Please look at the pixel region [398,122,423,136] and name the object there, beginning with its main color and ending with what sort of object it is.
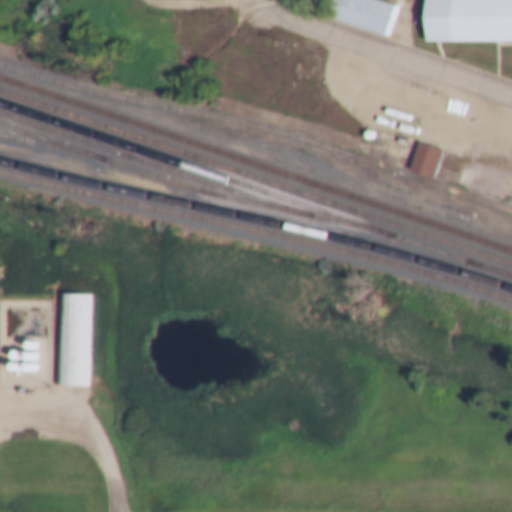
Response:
white vehicle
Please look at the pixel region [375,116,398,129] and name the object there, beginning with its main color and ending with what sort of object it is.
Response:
white vehicle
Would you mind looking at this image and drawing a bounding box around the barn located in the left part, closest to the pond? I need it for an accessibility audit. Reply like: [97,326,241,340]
[62,294,94,386]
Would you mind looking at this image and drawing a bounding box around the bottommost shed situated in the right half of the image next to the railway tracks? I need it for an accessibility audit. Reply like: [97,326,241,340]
[410,142,444,178]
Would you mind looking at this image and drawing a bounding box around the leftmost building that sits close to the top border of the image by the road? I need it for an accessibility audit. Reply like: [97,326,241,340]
[326,0,402,37]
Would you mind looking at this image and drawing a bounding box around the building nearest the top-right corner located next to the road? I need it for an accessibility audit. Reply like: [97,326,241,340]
[424,0,512,43]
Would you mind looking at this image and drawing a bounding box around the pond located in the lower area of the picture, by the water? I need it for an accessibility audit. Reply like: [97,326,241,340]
[150,316,262,392]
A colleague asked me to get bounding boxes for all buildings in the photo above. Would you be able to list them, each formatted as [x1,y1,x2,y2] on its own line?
[62,294,94,386]
[424,0,512,43]
[410,142,444,178]
[326,0,402,37]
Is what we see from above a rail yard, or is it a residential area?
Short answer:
rail yard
